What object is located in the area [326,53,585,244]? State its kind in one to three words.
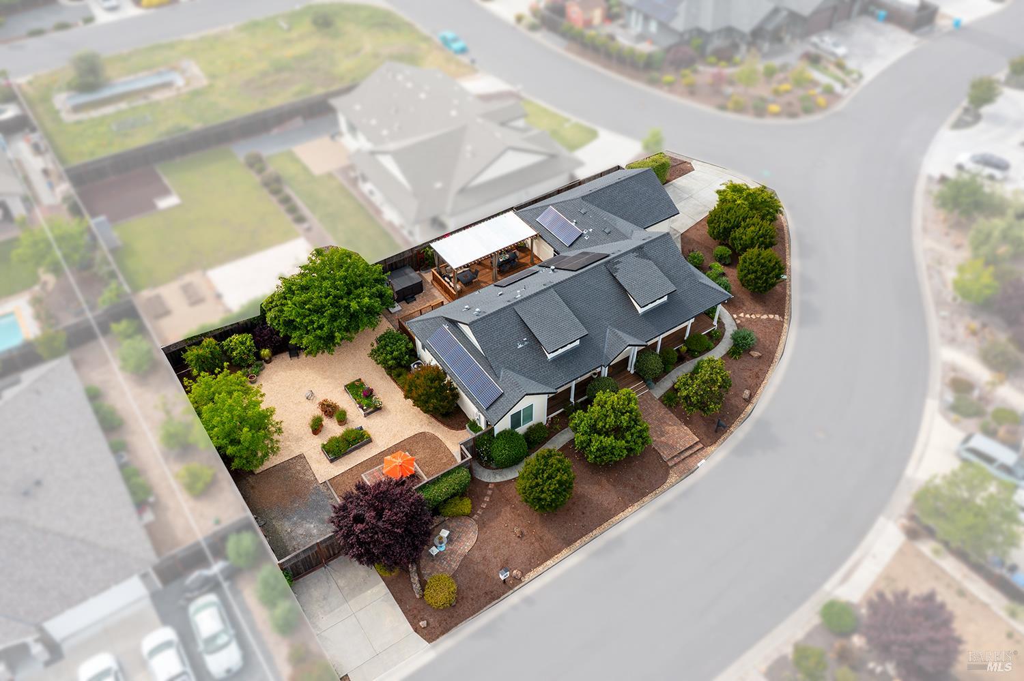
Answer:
house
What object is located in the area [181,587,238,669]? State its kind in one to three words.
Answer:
car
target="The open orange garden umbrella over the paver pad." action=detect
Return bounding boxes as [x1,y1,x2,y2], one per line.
[381,452,418,483]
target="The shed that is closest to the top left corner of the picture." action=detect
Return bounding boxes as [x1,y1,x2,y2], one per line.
[88,219,127,263]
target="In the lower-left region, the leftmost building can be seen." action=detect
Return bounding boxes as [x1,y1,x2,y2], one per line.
[0,358,162,677]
